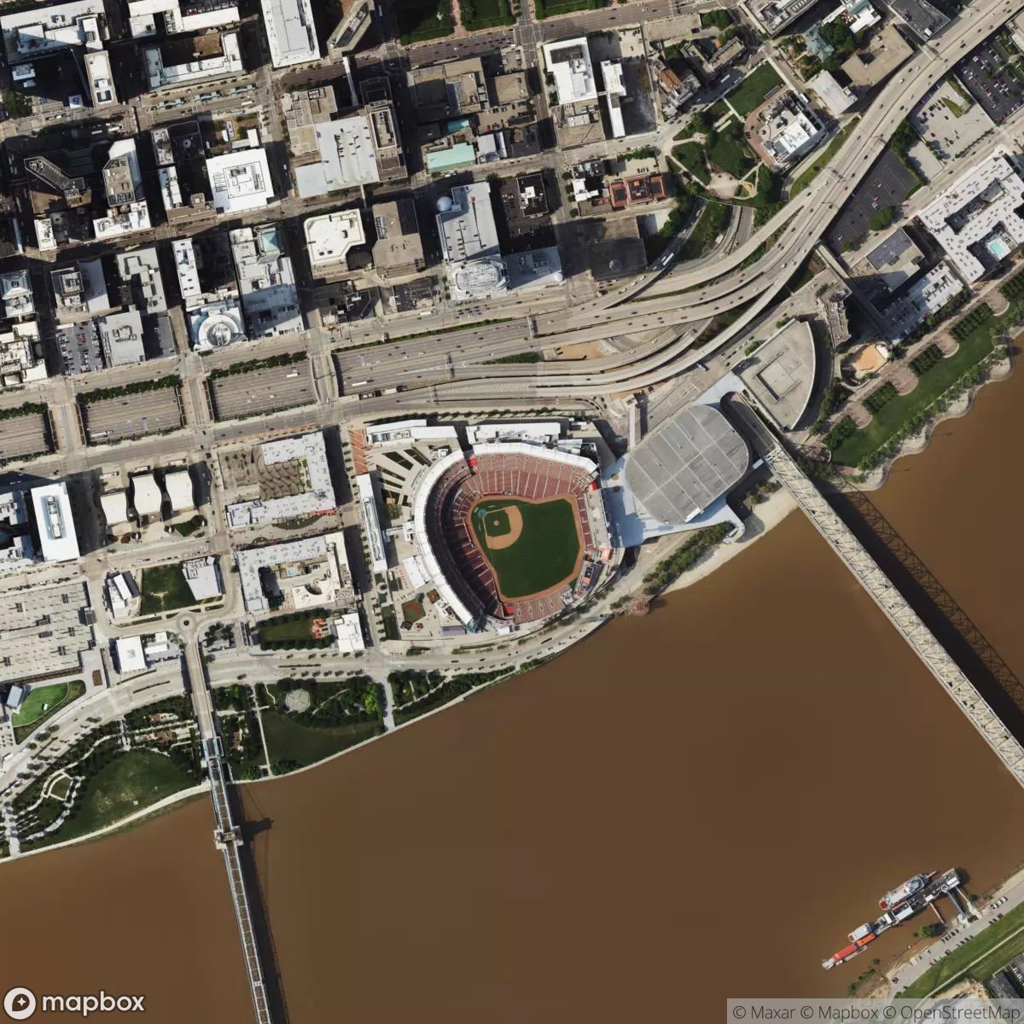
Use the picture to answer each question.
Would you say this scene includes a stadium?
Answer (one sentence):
Yes, looking at the shot, I can spot a stadium.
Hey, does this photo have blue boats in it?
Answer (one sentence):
No, I can see no blue boat in this picture.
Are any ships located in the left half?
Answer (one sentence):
No, looking in the left half, there is no ship.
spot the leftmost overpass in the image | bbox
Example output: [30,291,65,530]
[48,390,87,454]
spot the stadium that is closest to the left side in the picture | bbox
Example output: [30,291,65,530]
[415,440,614,635]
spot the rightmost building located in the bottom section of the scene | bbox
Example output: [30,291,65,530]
[990,972,1024,1023]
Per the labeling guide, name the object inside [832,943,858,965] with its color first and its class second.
red ship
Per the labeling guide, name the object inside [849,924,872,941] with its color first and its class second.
white boat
